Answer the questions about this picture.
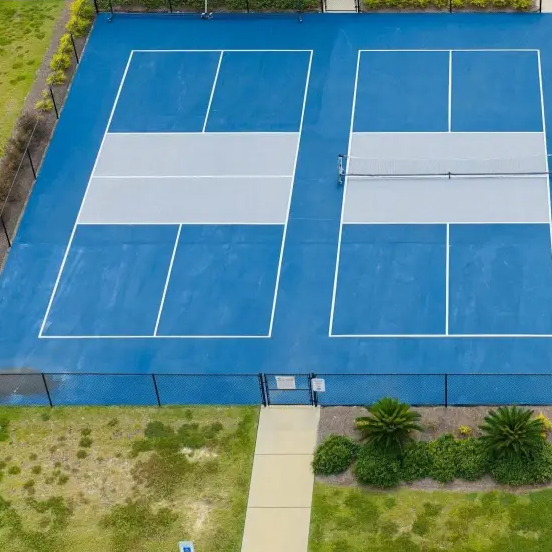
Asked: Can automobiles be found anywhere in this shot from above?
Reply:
No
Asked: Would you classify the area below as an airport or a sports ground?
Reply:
sports ground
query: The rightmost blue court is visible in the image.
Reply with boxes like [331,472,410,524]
[329,50,552,337]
